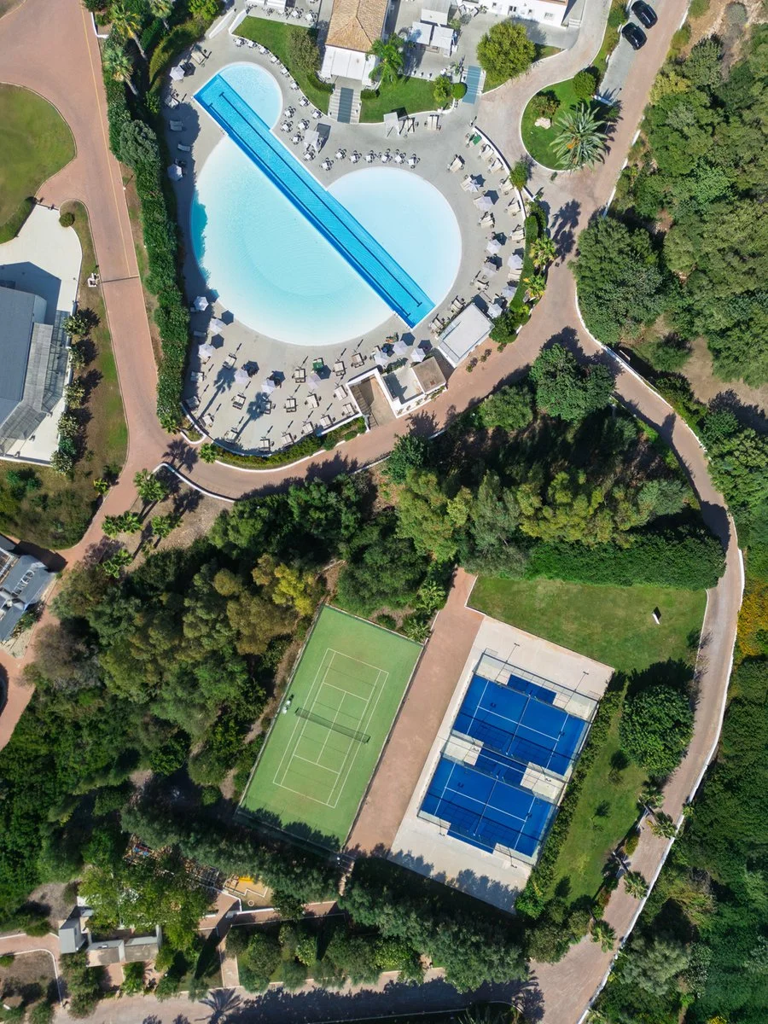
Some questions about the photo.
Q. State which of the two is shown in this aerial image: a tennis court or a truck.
tennis court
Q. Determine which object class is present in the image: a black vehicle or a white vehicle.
black vehicle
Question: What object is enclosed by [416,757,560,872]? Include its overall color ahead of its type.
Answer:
blue sports court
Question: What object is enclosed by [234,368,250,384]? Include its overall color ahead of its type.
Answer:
white umbrella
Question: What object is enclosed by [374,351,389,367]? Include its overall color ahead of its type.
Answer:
white umbrella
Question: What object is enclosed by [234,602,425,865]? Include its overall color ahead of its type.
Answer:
green tennis court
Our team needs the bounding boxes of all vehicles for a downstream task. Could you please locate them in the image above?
[631,1,656,30]
[621,23,646,52]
